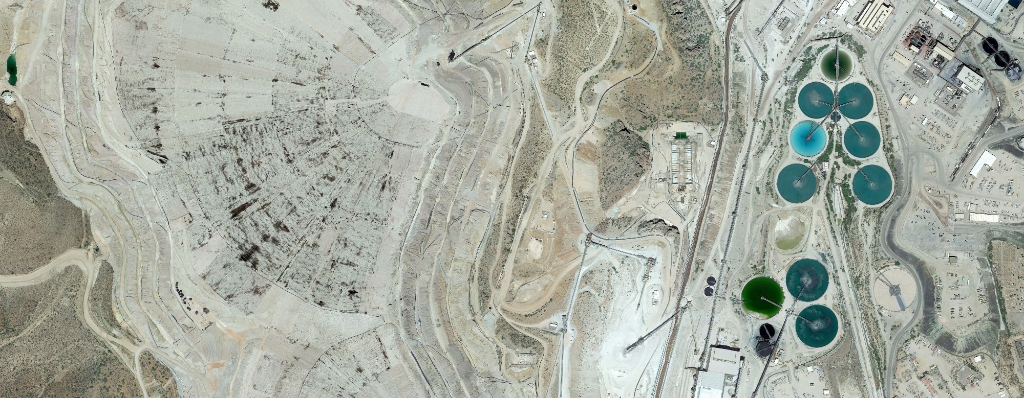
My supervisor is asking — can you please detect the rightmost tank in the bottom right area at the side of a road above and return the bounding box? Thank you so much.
[873,268,917,312]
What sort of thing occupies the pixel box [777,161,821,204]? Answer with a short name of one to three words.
storage tank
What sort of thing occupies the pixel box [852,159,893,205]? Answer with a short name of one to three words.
storage tank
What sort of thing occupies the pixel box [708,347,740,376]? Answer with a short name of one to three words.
building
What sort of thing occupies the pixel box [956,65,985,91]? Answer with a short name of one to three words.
building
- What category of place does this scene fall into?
industrial area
